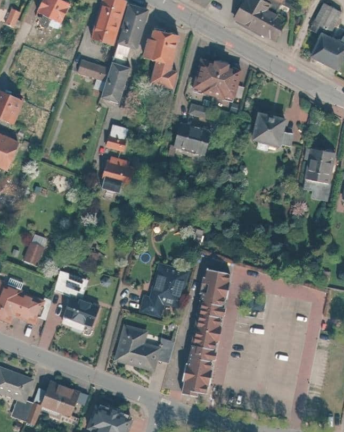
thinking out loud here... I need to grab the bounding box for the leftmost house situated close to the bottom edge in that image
[0,366,42,425]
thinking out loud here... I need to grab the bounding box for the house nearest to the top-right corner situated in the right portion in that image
[311,3,342,33]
